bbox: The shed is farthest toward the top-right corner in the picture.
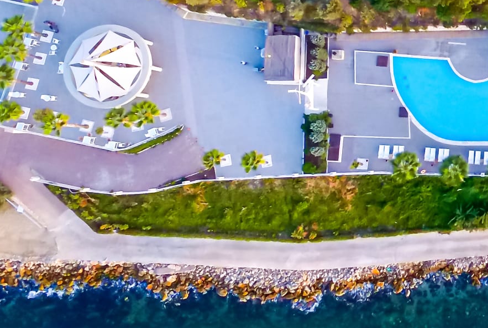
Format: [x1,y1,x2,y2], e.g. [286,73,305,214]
[265,35,299,85]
